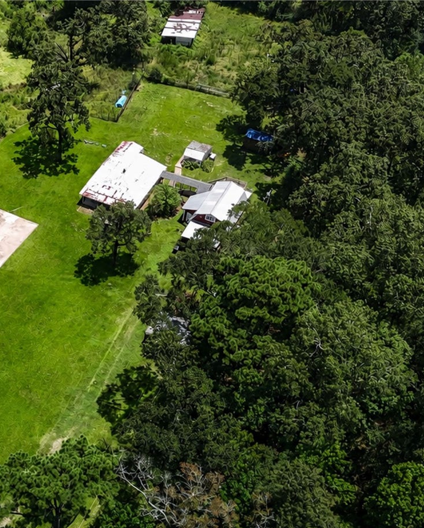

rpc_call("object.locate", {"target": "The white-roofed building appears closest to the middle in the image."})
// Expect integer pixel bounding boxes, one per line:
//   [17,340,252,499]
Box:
[180,180,251,249]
